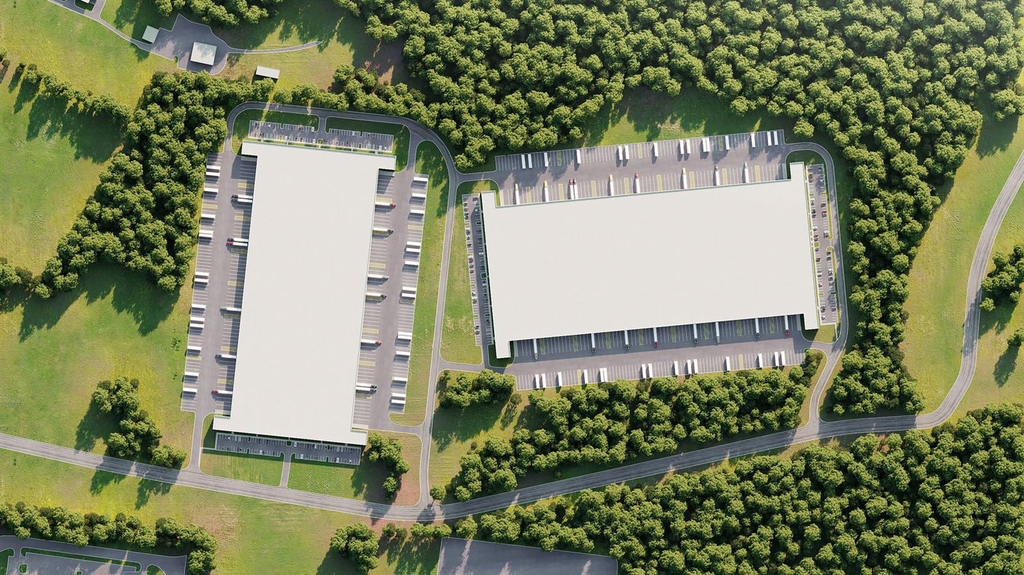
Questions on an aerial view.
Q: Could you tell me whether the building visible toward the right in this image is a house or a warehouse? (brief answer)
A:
warehouse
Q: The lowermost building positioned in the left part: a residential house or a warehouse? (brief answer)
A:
warehouse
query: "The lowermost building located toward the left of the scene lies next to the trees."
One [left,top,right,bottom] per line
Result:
[213,140,397,445]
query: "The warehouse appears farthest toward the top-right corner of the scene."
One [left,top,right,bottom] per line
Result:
[481,162,819,358]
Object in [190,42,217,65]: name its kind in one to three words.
barn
